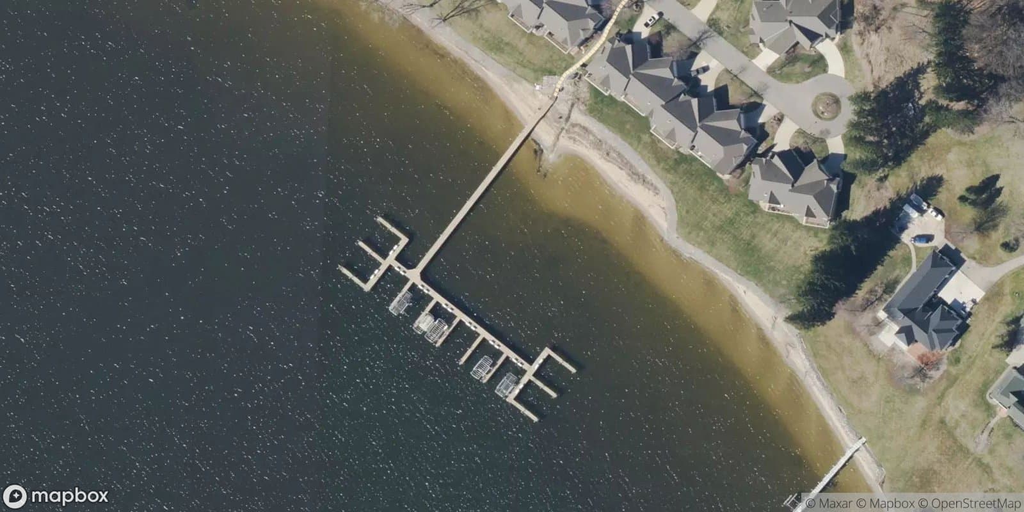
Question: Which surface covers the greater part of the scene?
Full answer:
What you mostly see from above here is water.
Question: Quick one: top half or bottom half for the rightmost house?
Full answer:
The rightmost house is in the bottom half of the image.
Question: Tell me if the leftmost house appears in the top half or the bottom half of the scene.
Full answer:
It is in the top half that the leftmost house appears.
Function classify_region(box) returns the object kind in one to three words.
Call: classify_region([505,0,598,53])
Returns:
house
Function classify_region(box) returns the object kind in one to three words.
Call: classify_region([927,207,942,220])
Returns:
vehicle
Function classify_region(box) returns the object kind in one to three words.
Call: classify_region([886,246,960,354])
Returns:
house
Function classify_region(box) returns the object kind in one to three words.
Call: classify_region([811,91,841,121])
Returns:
roundabout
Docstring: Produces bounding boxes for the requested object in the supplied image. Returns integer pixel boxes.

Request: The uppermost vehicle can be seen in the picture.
[642,14,659,29]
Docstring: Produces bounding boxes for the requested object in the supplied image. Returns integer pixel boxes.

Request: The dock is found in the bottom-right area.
[789,438,866,512]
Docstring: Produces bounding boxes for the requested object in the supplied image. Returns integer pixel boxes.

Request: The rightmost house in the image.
[991,350,1024,424]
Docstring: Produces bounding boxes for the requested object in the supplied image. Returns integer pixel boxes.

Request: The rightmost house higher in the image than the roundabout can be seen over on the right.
[749,0,838,56]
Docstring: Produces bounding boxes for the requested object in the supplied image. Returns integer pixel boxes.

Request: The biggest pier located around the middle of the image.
[338,96,578,422]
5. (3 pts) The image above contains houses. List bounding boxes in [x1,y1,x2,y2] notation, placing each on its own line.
[505,0,598,53]
[746,149,839,228]
[886,246,960,354]
[991,350,1024,424]
[585,37,754,176]
[749,0,838,56]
